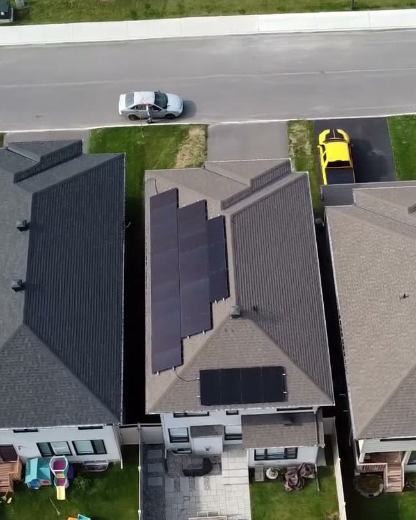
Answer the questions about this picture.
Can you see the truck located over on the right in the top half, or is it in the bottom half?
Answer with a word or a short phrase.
top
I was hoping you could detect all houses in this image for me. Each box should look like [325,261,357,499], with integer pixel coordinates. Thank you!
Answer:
[0,140,127,471]
[321,182,416,473]
[144,158,334,470]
